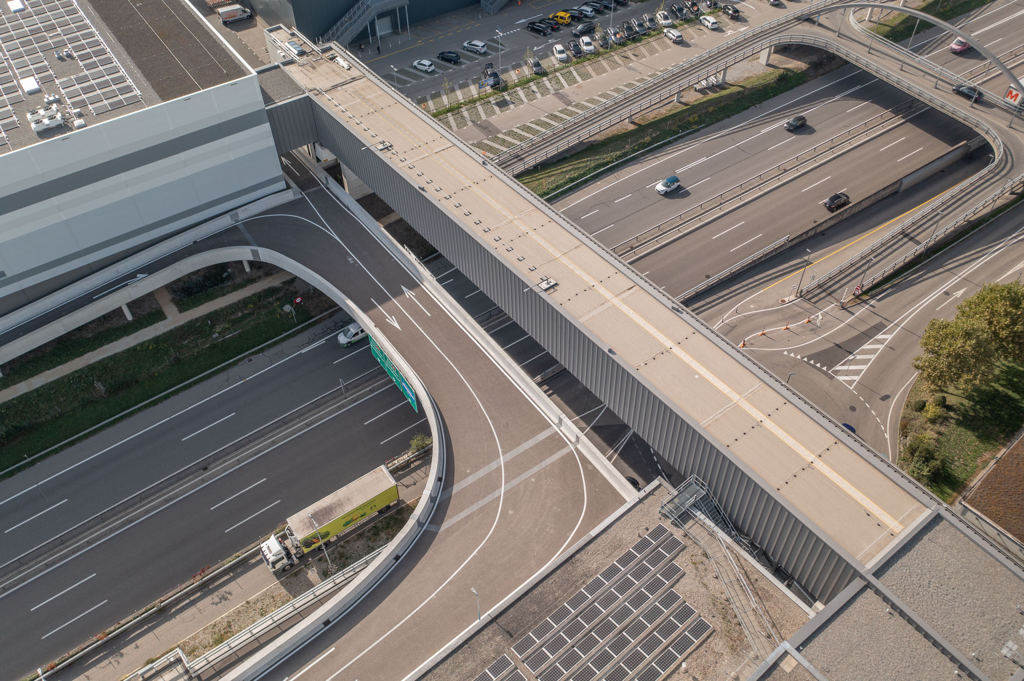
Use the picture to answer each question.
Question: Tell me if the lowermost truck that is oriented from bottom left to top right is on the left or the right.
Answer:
left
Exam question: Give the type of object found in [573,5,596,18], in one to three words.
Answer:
vehicle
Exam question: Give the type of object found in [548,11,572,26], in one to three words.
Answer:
vehicle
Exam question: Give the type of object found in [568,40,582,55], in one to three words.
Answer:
car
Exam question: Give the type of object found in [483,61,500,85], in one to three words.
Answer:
car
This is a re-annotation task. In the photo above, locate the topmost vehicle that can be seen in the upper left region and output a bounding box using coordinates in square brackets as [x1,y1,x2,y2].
[219,6,253,26]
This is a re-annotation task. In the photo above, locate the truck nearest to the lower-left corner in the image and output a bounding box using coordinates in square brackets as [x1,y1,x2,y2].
[253,466,398,580]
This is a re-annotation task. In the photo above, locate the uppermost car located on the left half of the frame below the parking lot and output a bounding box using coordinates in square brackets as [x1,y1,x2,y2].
[333,323,368,349]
